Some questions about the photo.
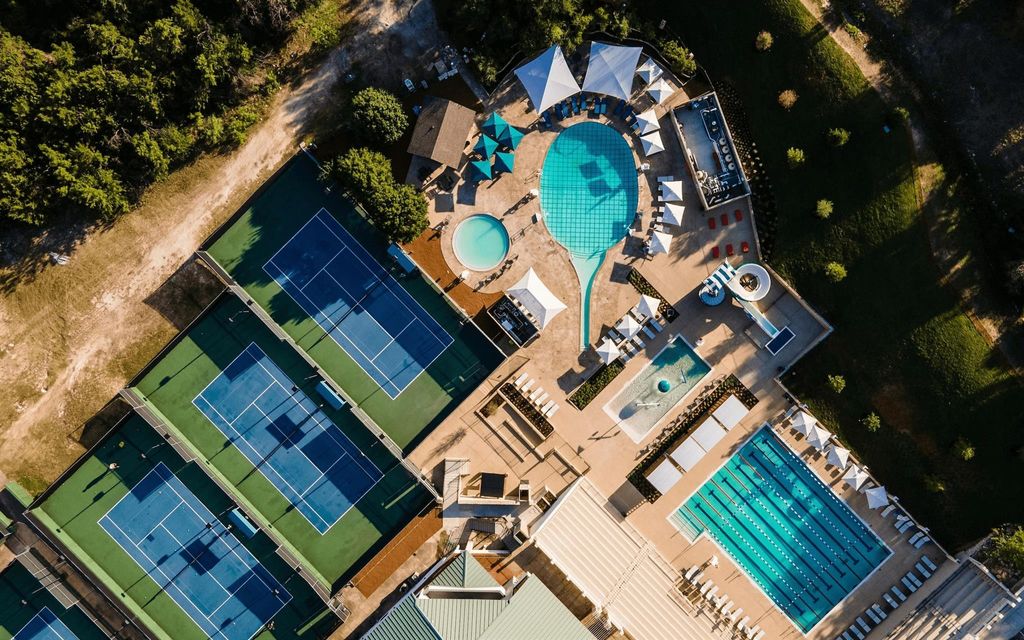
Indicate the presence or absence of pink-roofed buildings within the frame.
No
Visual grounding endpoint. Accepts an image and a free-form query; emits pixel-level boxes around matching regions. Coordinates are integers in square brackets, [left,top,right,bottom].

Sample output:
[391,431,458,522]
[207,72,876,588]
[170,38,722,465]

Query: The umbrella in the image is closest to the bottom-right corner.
[866,487,888,508]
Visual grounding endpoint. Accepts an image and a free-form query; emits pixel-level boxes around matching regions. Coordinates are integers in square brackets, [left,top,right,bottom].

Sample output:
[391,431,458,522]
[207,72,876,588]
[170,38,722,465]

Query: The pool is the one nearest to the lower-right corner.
[664,421,897,638]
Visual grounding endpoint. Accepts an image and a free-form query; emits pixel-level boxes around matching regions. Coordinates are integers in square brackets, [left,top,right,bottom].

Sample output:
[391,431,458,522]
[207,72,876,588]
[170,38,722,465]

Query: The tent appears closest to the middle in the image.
[506,266,568,330]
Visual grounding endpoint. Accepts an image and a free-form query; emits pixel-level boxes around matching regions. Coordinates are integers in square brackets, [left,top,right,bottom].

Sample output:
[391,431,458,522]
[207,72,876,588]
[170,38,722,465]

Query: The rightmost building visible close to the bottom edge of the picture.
[603,542,747,640]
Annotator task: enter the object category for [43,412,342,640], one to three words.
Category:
tennis court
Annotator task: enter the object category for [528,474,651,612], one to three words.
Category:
building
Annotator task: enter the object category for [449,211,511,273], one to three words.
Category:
swimming pool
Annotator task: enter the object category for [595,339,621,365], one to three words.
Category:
umbrella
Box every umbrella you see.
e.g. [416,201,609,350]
[843,464,868,490]
[636,109,660,133]
[498,124,524,150]
[641,132,664,154]
[595,339,621,365]
[636,294,660,319]
[663,181,682,201]
[481,112,508,139]
[493,152,515,173]
[616,315,642,341]
[647,78,674,104]
[826,444,850,468]
[866,487,888,508]
[807,425,832,450]
[471,161,490,180]
[637,59,663,85]
[663,204,684,225]
[473,134,499,160]
[791,411,817,436]
[650,231,672,254]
